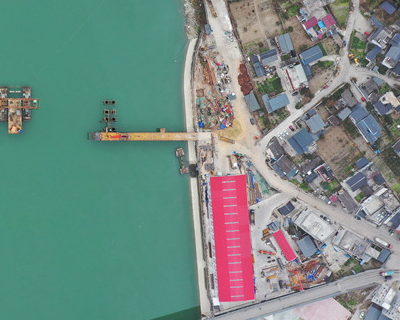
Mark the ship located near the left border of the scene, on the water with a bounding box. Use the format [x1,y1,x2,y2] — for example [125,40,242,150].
[0,86,40,133]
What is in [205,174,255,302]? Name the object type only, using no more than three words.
building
